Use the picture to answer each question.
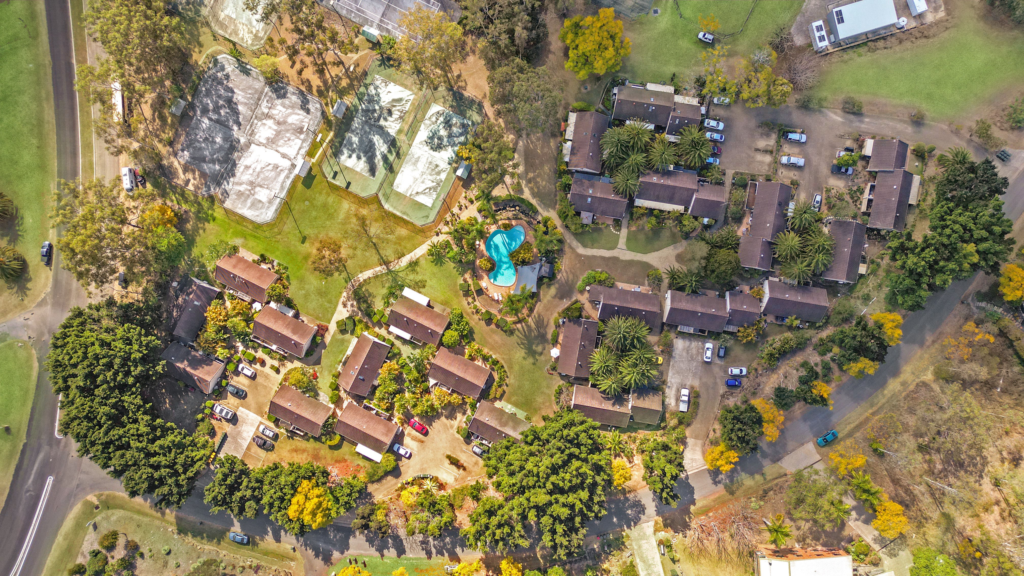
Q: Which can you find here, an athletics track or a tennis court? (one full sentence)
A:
Looking from above, you can make out a tennis court.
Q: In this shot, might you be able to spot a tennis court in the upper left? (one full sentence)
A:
Yes, you'll find a tennis court in the upper left.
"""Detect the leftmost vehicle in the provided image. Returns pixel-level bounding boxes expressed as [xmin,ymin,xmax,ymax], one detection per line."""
[41,243,53,264]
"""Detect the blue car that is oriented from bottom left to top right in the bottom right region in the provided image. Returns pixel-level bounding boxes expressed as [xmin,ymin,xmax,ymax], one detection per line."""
[817,430,837,446]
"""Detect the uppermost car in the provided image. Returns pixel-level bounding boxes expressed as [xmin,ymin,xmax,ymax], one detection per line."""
[697,32,714,44]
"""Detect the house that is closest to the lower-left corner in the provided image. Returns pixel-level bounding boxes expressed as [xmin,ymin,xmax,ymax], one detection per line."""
[160,342,227,395]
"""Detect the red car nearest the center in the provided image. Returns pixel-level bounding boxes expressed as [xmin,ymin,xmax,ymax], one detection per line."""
[410,418,428,435]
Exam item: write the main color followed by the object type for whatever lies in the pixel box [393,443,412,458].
white car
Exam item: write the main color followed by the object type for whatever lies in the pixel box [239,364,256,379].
white car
